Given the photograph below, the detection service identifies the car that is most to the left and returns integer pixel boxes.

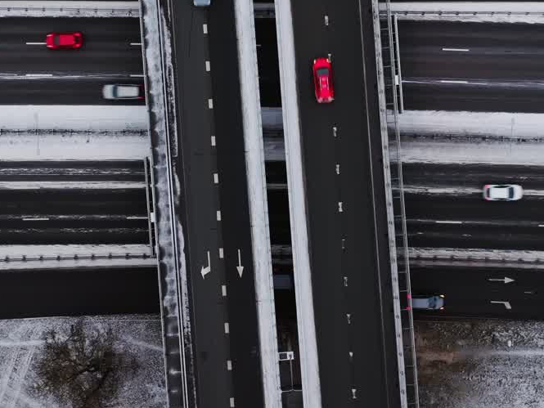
[45,31,82,50]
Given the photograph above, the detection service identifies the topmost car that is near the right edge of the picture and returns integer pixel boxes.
[483,183,523,202]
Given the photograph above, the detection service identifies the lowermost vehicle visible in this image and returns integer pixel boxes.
[406,293,444,312]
